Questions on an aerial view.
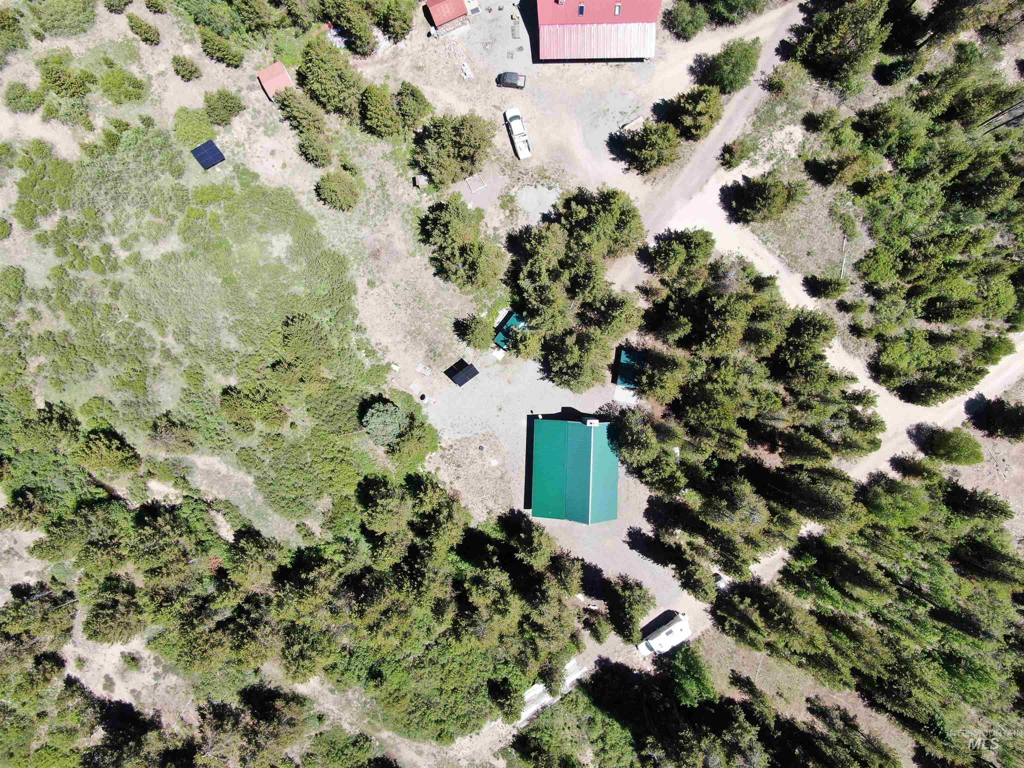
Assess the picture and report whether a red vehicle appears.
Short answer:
No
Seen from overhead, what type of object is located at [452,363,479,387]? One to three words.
solar array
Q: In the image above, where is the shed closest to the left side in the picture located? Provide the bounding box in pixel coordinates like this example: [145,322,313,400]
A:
[253,54,298,103]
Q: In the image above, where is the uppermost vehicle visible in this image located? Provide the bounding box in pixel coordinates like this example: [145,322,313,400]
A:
[495,72,526,91]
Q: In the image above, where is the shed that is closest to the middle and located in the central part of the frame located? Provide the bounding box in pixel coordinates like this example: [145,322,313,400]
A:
[494,314,523,358]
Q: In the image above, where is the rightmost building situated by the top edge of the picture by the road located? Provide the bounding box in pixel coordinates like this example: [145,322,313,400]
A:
[539,0,661,64]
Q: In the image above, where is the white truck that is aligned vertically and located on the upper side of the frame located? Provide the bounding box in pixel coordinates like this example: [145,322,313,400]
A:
[507,108,532,162]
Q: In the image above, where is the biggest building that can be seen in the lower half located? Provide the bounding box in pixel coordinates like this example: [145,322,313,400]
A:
[532,416,619,527]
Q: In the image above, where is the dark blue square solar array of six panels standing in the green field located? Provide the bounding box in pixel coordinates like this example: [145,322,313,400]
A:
[191,140,225,170]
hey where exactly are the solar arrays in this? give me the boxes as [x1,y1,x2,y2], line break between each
[191,140,225,170]
[452,363,479,387]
